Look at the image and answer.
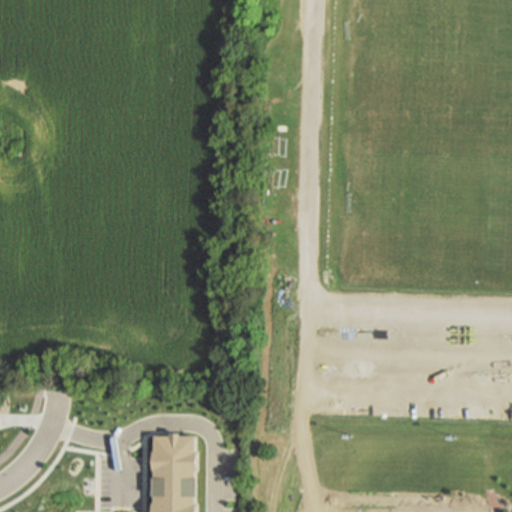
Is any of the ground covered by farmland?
Yes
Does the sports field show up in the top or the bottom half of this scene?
top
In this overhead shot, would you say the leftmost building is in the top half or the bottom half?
bottom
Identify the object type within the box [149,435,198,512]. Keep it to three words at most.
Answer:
building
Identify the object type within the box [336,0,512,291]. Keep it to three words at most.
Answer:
sports field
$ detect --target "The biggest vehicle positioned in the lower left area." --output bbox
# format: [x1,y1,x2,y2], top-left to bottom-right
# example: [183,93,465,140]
[110,428,122,472]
